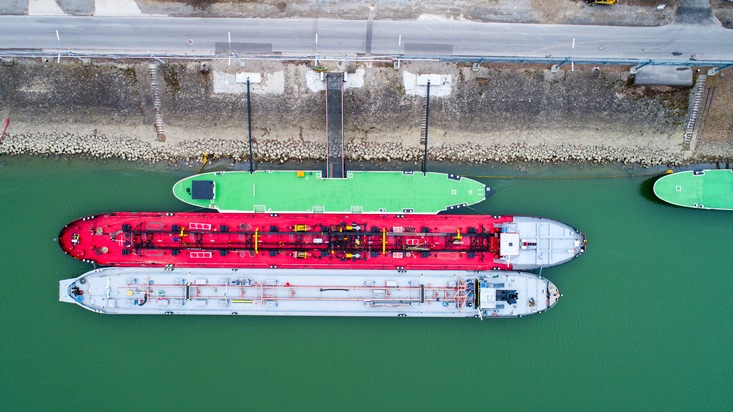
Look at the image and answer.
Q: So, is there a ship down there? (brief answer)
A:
Yes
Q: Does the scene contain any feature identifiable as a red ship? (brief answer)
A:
Yes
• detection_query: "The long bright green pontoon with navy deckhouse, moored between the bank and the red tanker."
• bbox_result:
[173,171,495,213]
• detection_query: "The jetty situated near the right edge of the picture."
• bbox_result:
[649,170,733,210]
